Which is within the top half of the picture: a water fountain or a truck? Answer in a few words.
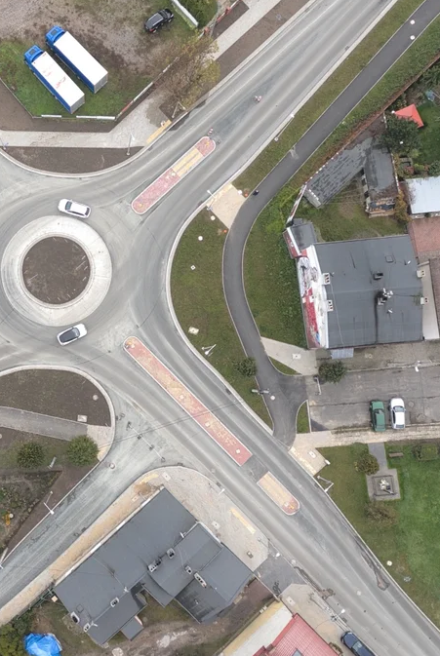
truck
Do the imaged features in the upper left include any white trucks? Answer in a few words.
Yes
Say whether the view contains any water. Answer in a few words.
No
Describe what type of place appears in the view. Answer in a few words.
residential area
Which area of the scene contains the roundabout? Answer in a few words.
left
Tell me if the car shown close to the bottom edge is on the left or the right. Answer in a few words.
right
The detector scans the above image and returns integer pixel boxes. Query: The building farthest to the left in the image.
[52,486,253,646]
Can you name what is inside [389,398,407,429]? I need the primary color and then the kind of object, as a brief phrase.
white car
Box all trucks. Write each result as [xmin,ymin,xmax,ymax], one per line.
[41,23,107,92]
[20,41,84,112]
